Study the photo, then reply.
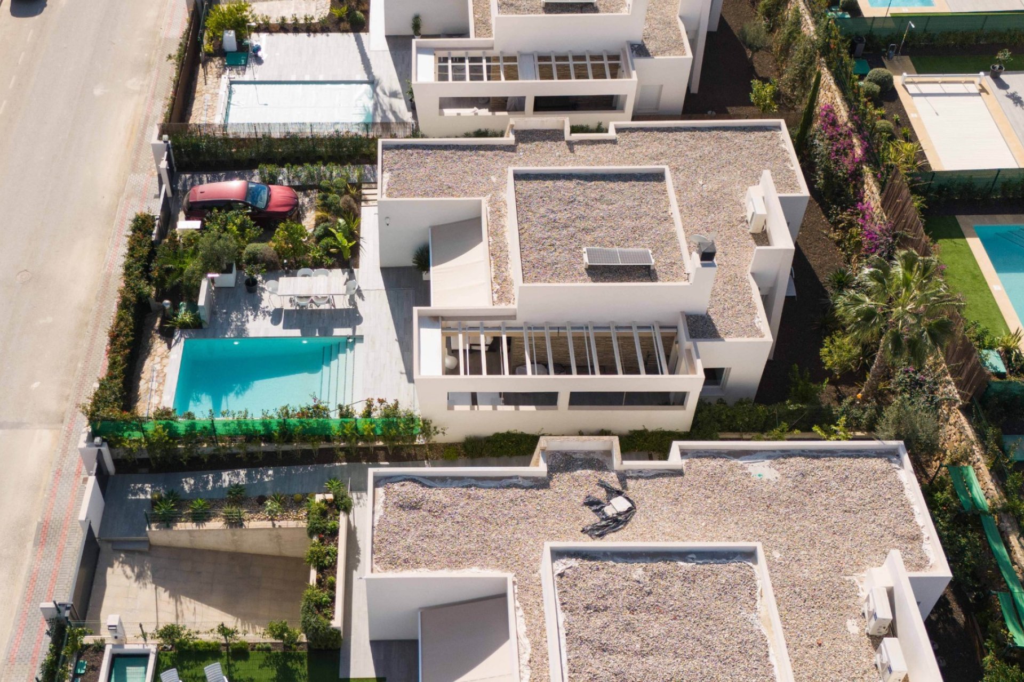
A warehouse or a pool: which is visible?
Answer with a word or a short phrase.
pool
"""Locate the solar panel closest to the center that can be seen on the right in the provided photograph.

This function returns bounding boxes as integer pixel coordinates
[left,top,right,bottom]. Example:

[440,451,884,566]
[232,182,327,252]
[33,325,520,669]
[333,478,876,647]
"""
[583,246,656,273]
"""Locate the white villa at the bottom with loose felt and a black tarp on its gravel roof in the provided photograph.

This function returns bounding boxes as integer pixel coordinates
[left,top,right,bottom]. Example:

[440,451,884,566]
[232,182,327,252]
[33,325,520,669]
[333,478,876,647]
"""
[363,436,949,682]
